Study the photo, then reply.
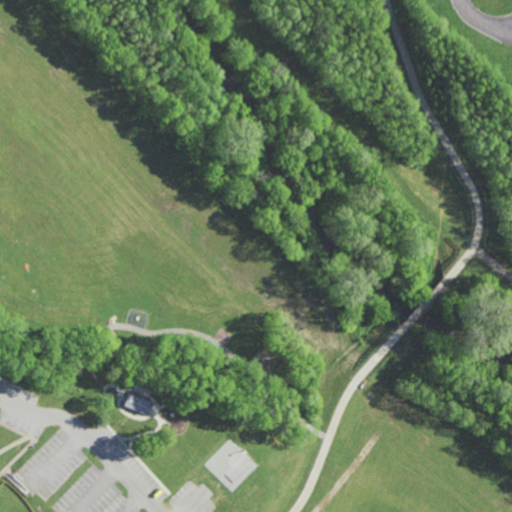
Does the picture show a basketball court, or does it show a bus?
basketball court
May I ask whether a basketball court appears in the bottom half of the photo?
Yes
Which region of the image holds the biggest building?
bottom left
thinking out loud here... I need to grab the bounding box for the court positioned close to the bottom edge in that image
[206,440,258,492]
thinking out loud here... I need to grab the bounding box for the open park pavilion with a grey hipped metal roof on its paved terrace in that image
[126,393,154,417]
